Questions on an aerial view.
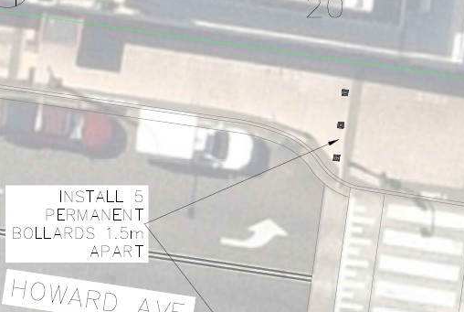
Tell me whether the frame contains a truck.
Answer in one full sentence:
Yes, the photo shows a truck.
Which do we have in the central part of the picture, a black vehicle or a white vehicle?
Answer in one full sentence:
It is a white vehicle that can be seen in the central part of the picture.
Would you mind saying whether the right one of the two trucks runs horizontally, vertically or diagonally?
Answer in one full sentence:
The right one of the two trucks has been laid out horizontally relative to the frame.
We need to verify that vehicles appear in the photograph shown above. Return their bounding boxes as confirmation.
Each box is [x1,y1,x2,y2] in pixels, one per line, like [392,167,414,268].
[132,107,255,165]
[0,94,113,150]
